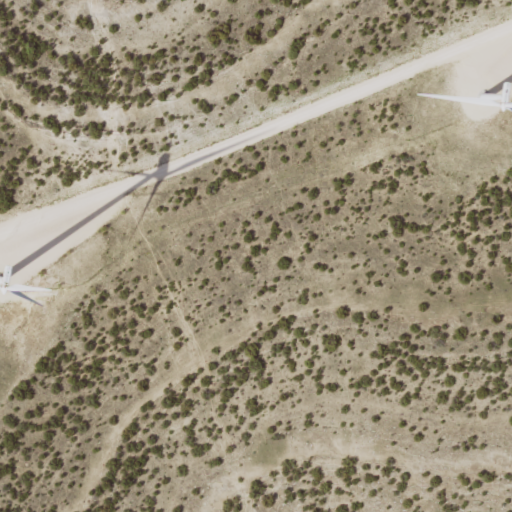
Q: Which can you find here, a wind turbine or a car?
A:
wind turbine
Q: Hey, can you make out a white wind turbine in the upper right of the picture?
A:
Yes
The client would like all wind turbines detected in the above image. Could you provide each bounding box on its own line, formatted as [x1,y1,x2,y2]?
[0,268,53,310]
[415,82,512,111]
